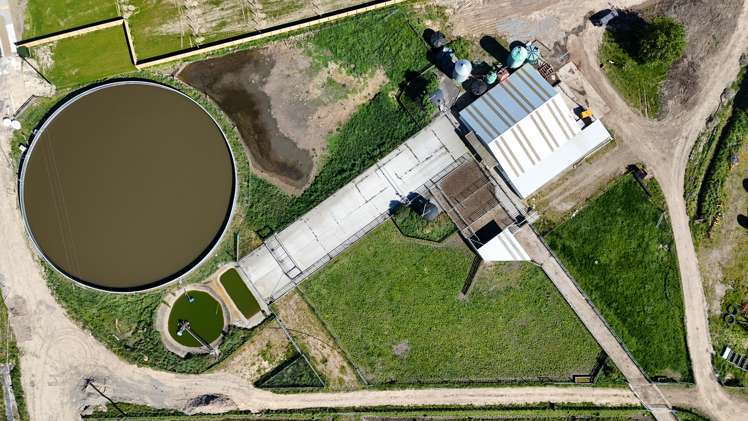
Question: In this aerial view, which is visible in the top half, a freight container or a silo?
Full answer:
It is a silo that can be seen in the top half.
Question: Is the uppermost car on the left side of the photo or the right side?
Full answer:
The uppermost car sits on the right side.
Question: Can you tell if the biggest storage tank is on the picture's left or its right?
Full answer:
The biggest storage tank is on the left side of the image.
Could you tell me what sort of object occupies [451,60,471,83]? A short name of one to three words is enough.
silo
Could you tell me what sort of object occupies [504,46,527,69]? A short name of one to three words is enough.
silo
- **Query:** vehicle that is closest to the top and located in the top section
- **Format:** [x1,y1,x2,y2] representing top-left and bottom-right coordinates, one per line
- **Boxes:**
[591,7,617,29]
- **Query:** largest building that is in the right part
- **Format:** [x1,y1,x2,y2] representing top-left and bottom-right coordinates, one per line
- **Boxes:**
[460,61,612,200]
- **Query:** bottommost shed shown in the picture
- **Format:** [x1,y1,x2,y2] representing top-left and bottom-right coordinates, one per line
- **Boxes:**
[475,228,531,261]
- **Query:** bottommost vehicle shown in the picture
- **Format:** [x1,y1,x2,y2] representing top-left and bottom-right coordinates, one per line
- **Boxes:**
[576,105,595,120]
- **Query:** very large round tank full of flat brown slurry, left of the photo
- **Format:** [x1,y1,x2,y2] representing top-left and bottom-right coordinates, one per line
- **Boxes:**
[20,78,239,294]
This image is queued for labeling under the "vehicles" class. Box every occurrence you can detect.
[591,7,617,29]
[576,105,595,120]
